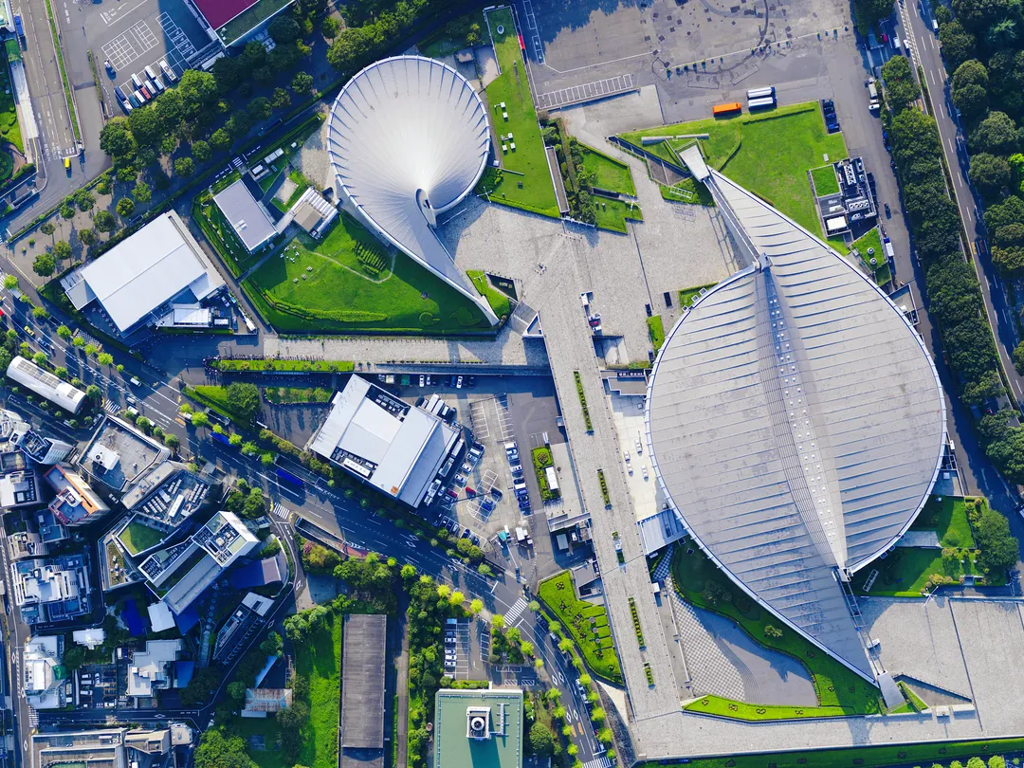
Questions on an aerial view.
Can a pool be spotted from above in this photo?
Yes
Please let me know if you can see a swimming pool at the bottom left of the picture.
Yes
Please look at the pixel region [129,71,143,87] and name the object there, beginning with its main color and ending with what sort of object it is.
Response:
white vehicle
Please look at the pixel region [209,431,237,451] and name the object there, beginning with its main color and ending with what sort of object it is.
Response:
blue bus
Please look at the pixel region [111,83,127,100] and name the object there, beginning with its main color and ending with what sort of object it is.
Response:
blue vehicle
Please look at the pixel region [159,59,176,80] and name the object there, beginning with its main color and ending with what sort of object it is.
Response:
white vehicle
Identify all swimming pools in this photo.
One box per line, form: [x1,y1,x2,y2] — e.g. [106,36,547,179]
[122,599,146,637]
